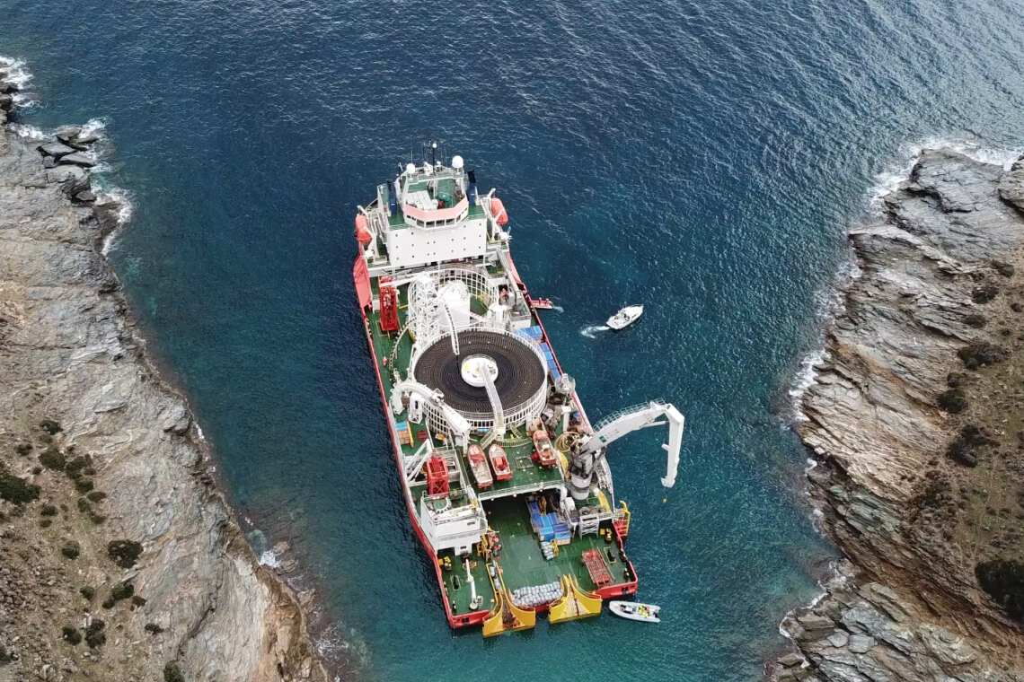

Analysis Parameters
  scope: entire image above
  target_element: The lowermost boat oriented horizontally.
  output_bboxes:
[609,600,666,621]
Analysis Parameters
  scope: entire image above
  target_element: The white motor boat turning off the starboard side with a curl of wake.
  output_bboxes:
[608,301,643,327]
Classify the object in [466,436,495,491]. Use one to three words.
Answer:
boat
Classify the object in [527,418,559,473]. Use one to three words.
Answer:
boat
